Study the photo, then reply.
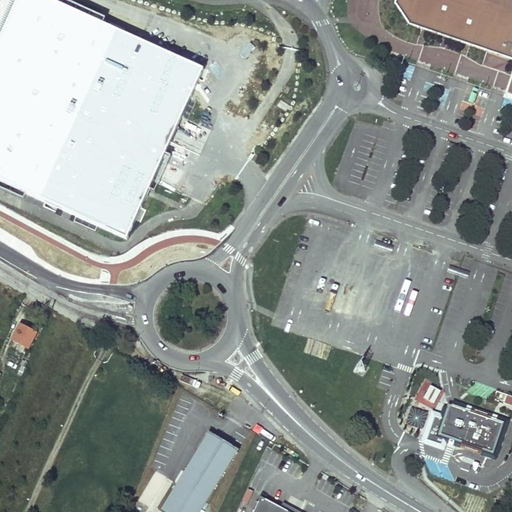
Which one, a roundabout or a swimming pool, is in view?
roundabout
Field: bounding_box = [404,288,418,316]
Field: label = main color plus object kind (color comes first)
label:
white vehicle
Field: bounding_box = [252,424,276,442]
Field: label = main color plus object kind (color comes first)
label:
white vehicle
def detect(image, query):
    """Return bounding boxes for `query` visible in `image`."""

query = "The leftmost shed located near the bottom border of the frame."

[132,471,174,512]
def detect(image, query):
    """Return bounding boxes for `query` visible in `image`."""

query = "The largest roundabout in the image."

[135,260,246,371]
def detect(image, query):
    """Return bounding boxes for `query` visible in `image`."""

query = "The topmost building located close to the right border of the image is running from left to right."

[395,0,512,59]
